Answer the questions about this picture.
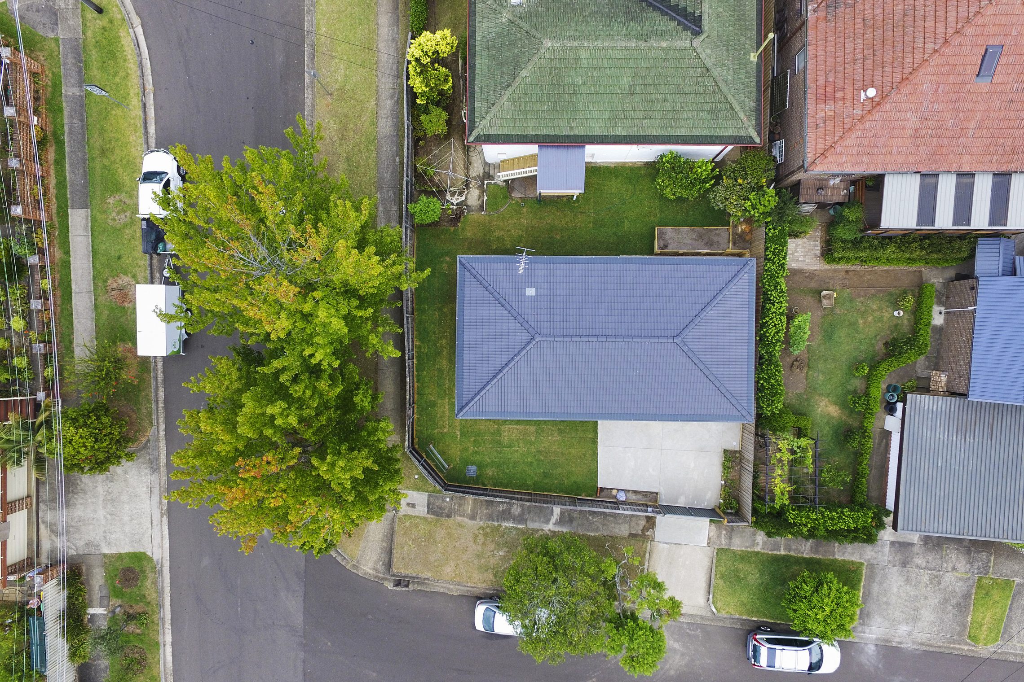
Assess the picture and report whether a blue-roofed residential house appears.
Yes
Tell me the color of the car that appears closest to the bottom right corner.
white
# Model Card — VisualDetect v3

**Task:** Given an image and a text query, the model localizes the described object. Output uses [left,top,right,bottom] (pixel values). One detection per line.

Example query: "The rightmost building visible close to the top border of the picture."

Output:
[776,0,1024,186]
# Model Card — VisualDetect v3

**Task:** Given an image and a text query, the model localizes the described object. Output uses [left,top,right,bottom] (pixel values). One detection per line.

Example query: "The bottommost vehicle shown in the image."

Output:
[751,628,837,677]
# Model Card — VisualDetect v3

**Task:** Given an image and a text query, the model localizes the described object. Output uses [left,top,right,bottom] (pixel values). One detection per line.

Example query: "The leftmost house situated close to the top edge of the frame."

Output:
[467,0,776,162]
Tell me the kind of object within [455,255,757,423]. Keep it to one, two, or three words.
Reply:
house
